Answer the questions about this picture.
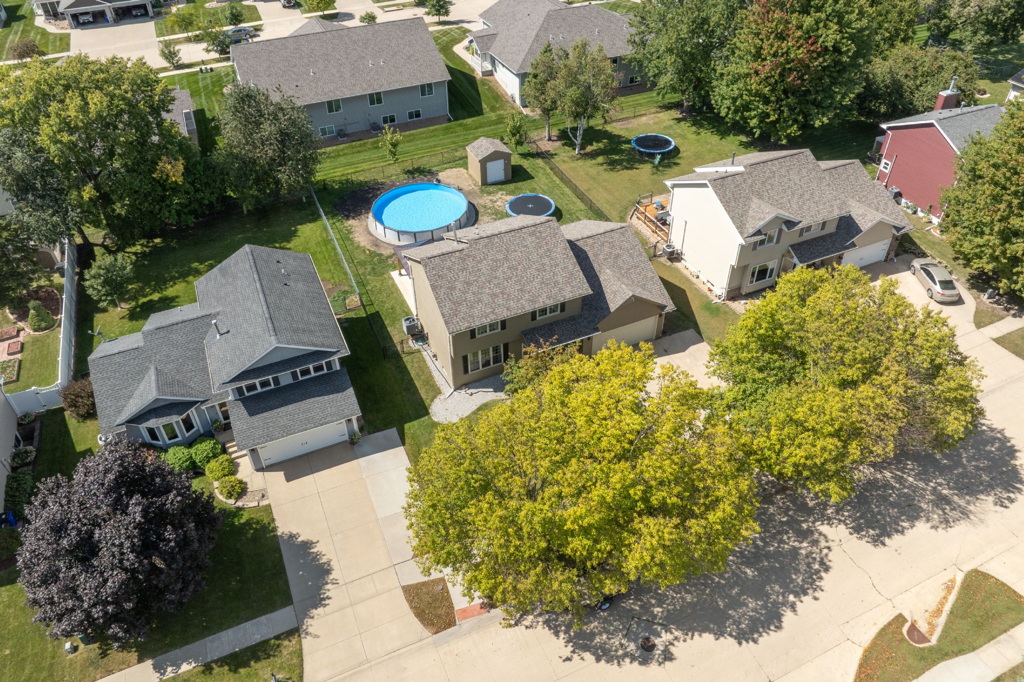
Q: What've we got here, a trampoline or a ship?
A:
trampoline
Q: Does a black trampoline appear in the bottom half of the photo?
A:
No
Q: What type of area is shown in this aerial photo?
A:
residential area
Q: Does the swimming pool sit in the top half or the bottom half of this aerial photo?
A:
top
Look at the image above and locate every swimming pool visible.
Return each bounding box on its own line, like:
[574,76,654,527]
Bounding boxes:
[366,183,478,250]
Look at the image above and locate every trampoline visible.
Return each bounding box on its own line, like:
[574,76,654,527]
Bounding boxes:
[506,193,555,218]
[631,133,675,162]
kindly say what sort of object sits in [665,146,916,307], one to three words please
house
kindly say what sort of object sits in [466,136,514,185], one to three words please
shed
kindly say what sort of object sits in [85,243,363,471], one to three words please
house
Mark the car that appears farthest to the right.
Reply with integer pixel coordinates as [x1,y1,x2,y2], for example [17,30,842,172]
[910,257,963,303]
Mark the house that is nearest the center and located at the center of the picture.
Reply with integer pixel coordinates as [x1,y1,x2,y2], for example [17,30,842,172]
[397,214,678,403]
